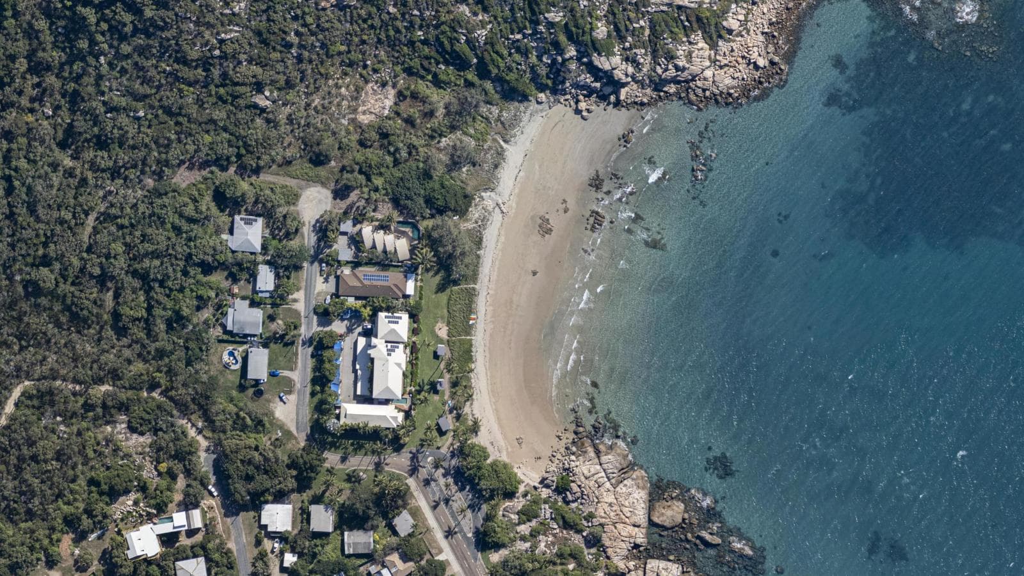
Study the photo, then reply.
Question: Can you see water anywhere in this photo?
Yes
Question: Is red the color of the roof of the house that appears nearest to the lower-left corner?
No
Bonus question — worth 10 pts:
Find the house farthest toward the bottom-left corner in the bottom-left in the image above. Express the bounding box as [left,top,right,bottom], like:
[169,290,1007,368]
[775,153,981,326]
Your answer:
[126,524,160,557]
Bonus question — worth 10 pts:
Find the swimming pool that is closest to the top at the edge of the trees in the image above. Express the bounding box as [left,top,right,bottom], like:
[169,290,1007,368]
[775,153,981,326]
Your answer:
[394,221,421,240]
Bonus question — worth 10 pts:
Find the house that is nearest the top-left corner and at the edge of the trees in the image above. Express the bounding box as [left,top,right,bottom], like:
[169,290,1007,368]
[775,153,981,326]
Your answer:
[228,215,263,252]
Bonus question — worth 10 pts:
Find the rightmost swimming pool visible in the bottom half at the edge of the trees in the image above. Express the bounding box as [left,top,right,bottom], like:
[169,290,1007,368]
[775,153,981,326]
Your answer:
[391,397,409,410]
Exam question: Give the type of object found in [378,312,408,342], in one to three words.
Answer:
building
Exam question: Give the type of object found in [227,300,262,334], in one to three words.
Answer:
house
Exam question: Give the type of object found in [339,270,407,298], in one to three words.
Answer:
house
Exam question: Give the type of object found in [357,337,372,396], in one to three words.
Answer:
building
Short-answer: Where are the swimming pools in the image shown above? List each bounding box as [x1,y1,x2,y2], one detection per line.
[156,516,173,525]
[394,221,421,240]
[222,347,242,369]
[391,397,409,410]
